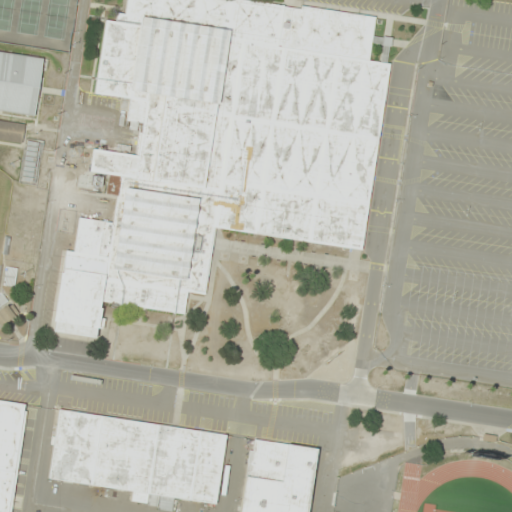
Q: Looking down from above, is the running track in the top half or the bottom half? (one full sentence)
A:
The bottom half of the photo is where the running track is.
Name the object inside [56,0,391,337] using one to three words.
building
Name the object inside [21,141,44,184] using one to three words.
shed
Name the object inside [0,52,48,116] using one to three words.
building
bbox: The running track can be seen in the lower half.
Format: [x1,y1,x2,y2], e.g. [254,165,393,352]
[398,460,512,512]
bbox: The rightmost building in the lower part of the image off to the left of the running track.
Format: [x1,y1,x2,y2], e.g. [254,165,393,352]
[242,438,321,512]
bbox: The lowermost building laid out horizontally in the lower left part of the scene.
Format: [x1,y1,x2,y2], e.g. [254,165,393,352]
[49,410,228,512]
